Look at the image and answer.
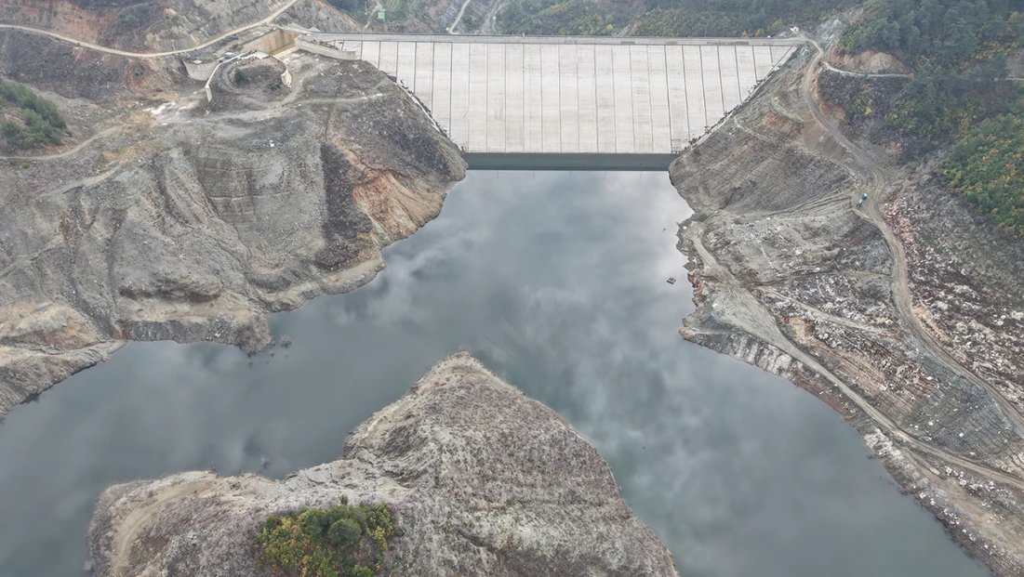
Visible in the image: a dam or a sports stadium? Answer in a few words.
dam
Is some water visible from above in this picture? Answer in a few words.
Yes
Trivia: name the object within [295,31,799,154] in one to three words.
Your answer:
dam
